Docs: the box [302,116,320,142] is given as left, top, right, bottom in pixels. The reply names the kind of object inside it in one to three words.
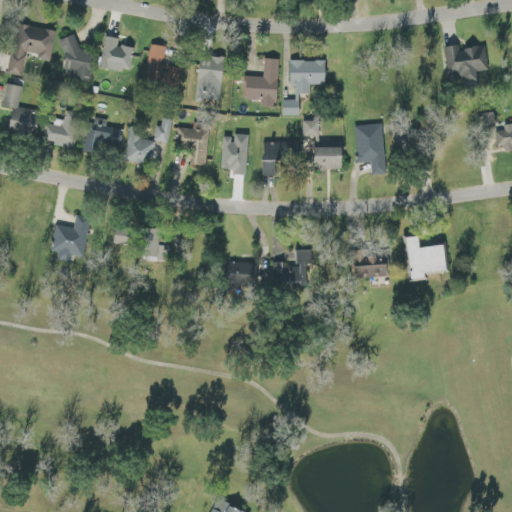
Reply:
building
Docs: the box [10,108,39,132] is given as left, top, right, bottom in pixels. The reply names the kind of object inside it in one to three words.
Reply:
house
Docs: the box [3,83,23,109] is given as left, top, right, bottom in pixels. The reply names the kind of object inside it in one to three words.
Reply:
building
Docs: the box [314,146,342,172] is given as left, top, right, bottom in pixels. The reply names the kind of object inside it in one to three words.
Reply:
house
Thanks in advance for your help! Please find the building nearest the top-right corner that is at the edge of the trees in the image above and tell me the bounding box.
[446,41,490,82]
